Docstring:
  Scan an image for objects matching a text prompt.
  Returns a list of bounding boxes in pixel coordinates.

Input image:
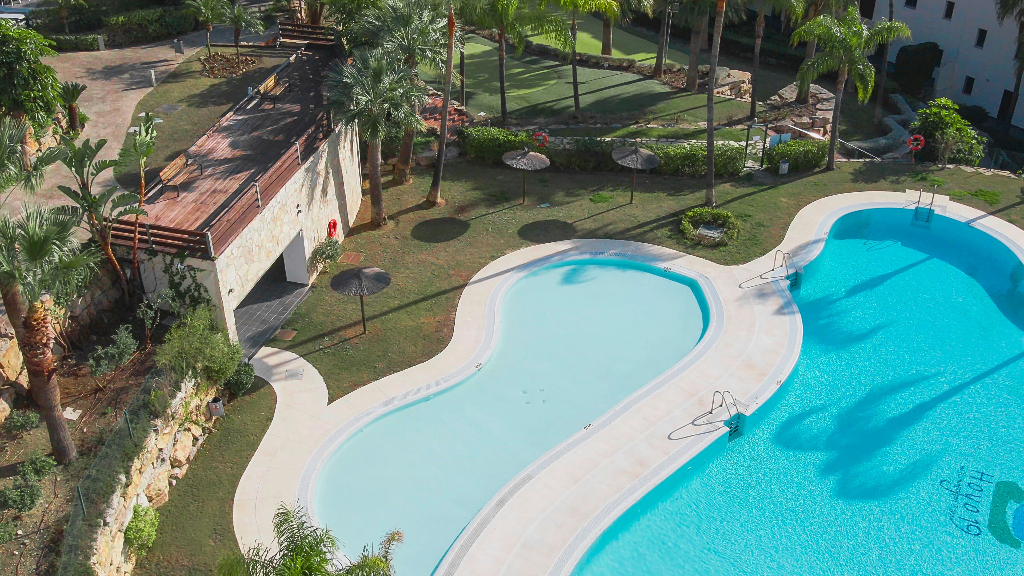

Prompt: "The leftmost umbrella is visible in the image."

[326,260,392,334]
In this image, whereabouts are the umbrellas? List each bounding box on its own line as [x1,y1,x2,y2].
[499,142,548,203]
[326,260,392,334]
[610,142,660,203]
